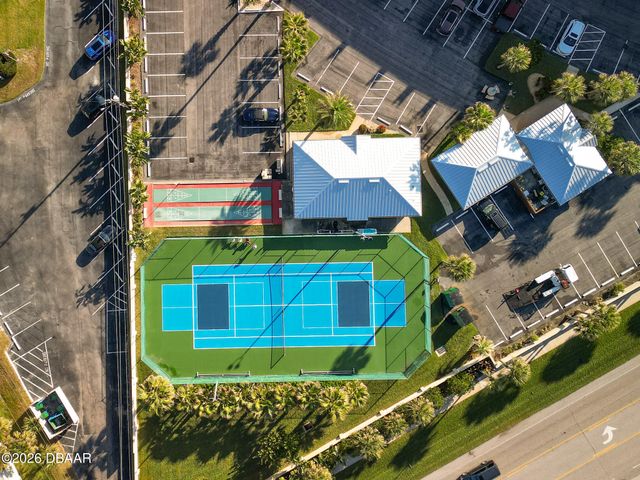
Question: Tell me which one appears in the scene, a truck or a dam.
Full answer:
The one in the frame is a truck.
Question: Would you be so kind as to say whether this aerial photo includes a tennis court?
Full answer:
Yes, you can see a tennis court in this photo.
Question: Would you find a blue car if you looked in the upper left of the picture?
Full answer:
Yes, you'll find a blue car in the upper left of the picture.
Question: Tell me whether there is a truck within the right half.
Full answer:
Yes, there is a truck within the right half.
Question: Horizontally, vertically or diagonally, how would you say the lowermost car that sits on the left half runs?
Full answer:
In this picture, the lowermost car that sits on the left half lies diagonally.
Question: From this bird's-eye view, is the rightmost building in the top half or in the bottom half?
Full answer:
You can find the rightmost building in the top half.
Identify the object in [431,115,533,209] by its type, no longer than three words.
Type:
building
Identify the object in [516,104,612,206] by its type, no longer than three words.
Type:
building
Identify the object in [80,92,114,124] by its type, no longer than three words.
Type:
car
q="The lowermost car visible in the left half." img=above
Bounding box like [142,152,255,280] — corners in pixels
[86,222,118,254]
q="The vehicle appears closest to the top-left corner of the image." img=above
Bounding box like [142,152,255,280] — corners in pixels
[82,28,116,59]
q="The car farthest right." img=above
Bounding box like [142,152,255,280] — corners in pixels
[556,19,584,56]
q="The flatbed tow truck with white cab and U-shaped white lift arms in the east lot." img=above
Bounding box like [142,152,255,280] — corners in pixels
[496,259,581,312]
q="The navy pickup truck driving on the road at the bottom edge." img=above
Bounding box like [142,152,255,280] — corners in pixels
[454,456,500,480]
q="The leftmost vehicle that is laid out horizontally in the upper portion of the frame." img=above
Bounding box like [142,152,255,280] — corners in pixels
[243,107,279,124]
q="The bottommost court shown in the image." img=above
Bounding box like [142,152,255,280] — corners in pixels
[146,235,425,376]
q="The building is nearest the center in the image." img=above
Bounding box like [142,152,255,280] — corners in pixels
[292,134,422,221]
